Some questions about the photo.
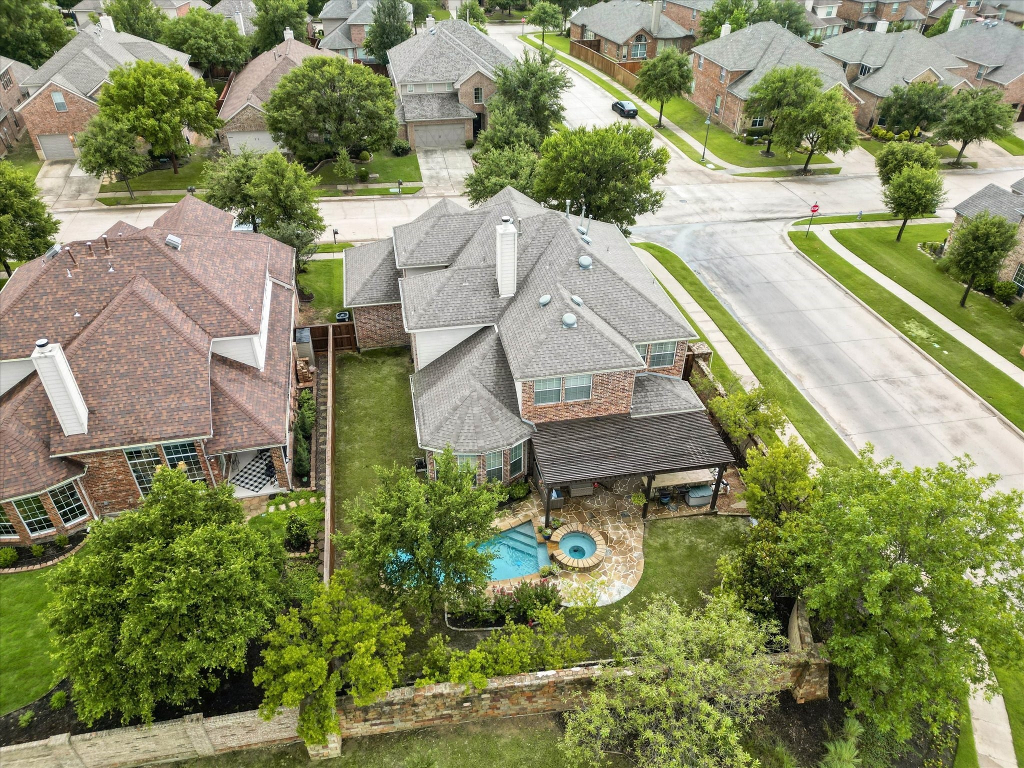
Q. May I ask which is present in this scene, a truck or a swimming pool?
swimming pool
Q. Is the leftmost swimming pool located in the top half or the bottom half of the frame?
bottom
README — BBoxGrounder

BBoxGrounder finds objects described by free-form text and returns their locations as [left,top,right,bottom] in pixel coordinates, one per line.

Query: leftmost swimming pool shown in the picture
[376,511,552,592]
